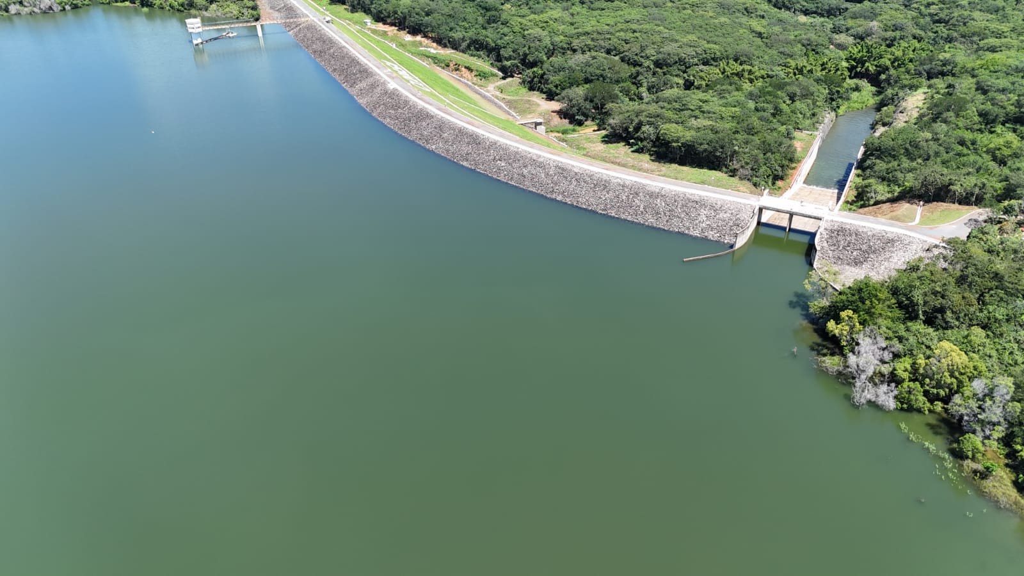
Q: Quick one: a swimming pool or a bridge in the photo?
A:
bridge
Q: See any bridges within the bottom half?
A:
No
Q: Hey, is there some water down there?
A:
Yes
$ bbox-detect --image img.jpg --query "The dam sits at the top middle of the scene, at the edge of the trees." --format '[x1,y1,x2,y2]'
[257,0,760,245]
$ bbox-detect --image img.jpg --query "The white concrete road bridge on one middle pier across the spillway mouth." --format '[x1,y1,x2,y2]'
[757,192,833,235]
